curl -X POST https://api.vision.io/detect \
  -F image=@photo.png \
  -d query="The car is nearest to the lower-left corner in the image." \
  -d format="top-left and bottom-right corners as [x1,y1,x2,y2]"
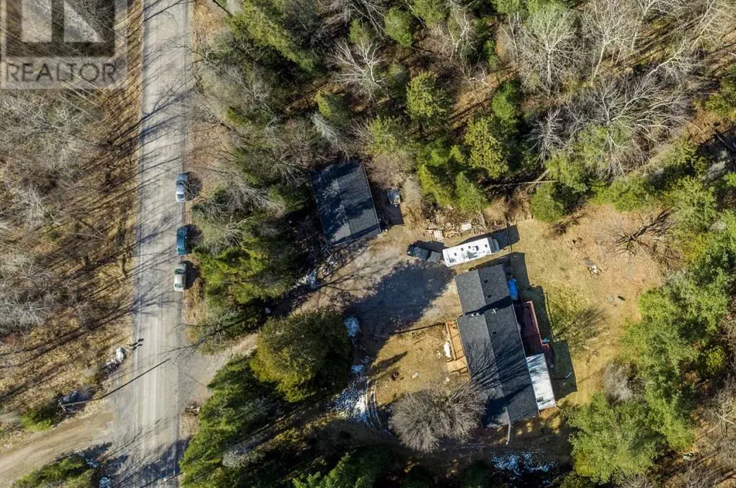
[172,263,188,292]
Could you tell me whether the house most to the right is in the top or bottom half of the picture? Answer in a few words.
bottom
